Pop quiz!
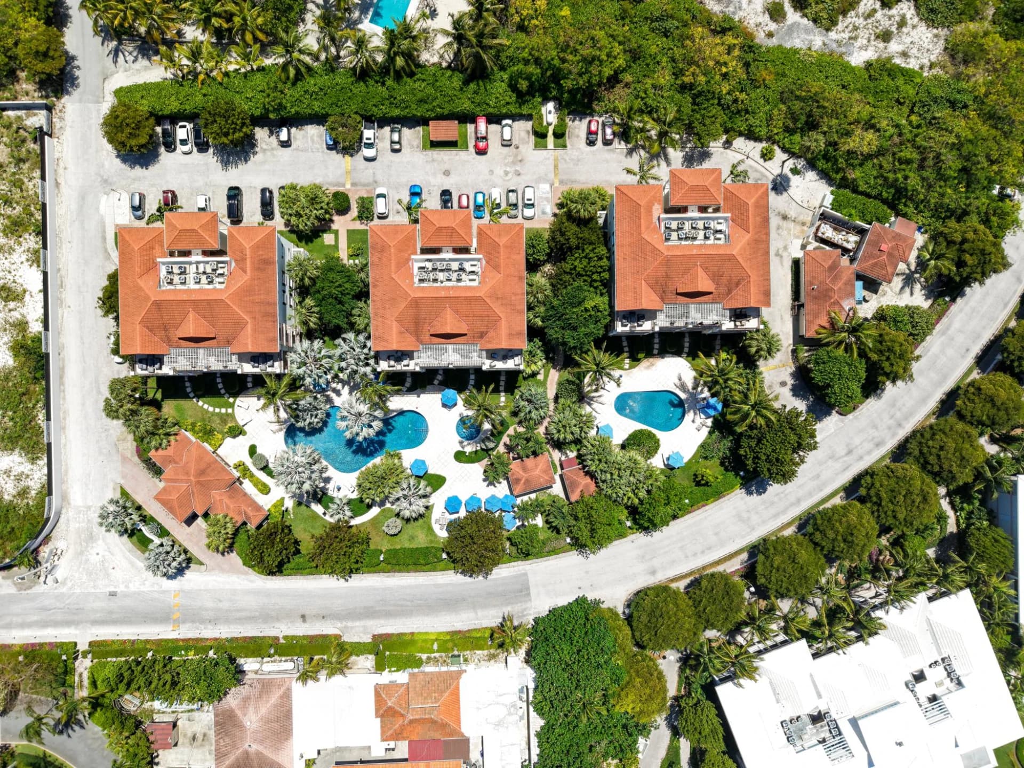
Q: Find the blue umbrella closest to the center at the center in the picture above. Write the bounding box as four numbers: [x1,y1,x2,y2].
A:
[440,389,459,407]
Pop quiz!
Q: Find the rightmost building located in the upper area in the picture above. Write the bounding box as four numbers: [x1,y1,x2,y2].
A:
[850,217,917,284]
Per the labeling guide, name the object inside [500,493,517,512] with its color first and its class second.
blue umbrella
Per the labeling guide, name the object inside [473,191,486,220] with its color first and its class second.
blue vehicle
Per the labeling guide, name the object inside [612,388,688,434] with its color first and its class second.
blue swimming pool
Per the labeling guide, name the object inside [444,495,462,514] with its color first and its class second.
blue umbrella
